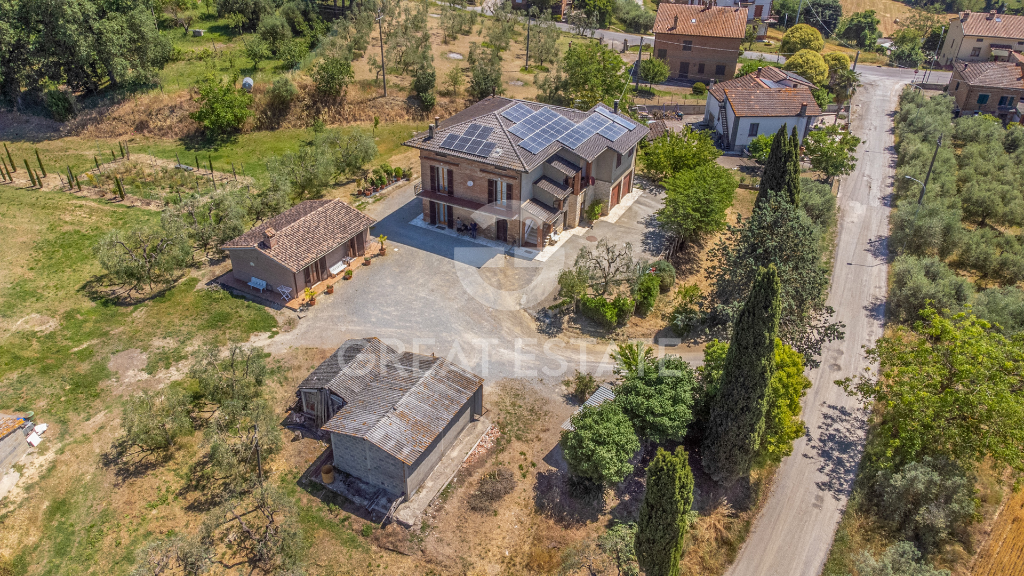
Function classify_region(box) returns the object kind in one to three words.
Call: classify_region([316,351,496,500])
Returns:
barn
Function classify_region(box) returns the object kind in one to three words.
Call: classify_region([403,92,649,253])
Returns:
house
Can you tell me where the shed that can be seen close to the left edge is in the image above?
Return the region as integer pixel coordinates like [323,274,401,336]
[0,400,29,465]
